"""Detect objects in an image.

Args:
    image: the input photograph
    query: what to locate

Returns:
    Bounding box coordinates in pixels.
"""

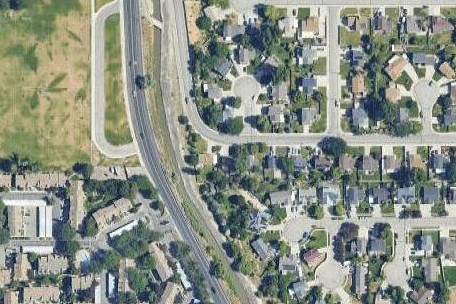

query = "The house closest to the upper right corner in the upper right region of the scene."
[432,16,453,33]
